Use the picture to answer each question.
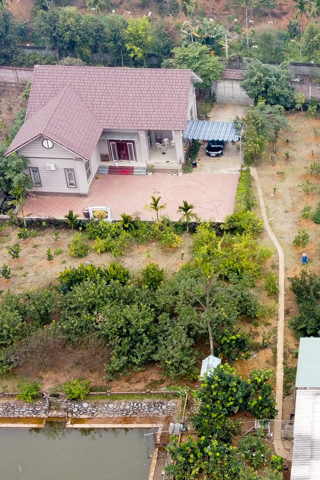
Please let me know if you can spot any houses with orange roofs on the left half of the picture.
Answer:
No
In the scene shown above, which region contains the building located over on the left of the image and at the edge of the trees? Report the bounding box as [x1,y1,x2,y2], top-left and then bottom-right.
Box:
[4,64,200,196]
